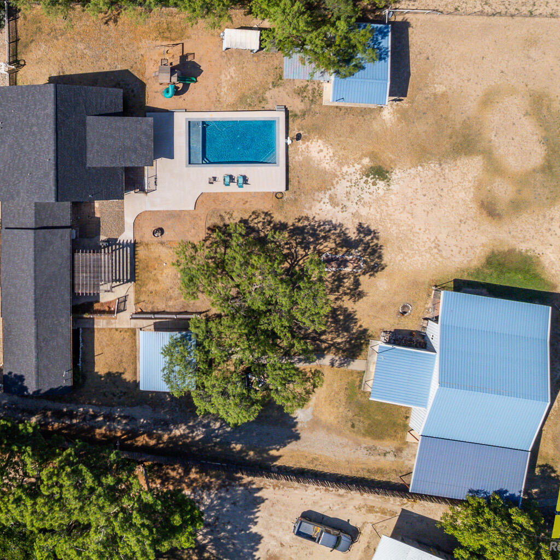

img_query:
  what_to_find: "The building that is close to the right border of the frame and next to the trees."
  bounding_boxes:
[364,289,552,506]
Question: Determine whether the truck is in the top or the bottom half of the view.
bottom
